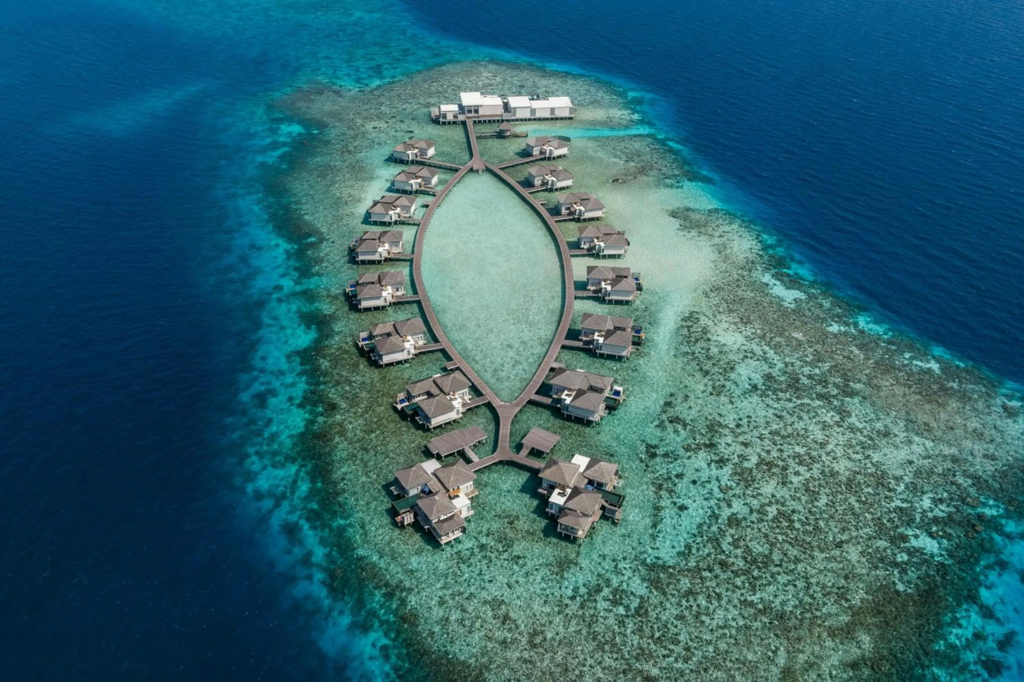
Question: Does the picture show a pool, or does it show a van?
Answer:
pool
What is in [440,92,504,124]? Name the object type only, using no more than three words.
building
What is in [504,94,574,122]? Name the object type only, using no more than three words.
building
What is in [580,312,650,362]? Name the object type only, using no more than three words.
house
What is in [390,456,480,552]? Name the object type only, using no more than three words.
house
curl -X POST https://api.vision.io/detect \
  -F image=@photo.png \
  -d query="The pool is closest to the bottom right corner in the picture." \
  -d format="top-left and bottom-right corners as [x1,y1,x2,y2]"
[595,487,624,509]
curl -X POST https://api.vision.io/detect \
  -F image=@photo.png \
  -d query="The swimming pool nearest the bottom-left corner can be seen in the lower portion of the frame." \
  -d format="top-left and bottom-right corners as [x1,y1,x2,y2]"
[393,494,422,519]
